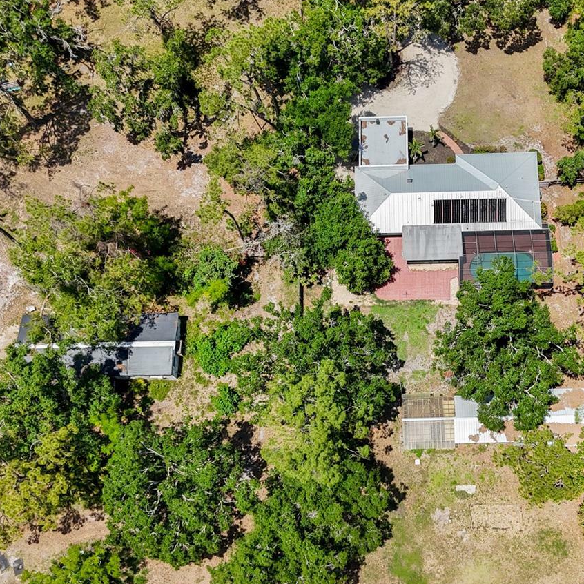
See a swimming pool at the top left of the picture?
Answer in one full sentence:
No, no swimming pool can be made out at the top left of the picture.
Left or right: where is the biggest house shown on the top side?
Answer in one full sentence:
It is on the right.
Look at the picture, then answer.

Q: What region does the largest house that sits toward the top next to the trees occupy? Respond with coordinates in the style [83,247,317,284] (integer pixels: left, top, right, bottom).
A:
[353,152,541,266]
